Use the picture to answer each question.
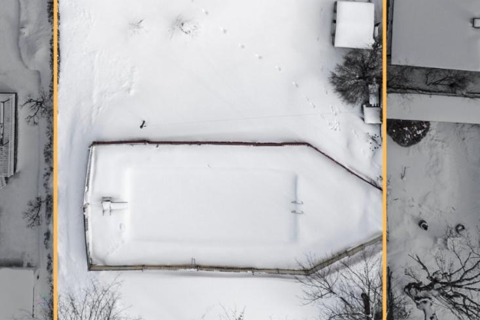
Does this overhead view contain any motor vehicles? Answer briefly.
No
